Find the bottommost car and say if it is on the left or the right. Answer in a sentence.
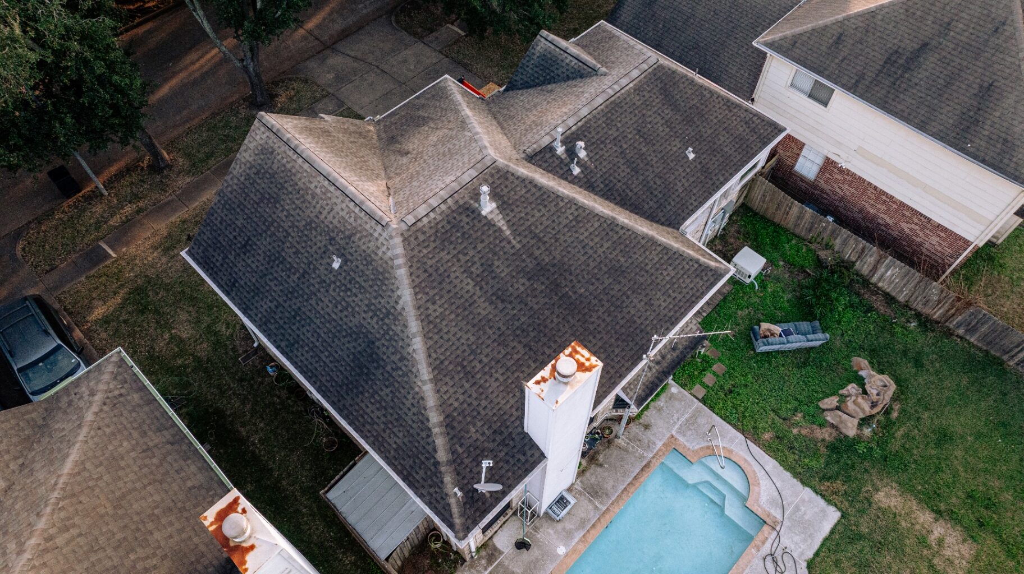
The bottommost car sits on the left side.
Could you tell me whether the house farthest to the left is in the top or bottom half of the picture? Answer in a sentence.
Seen from above, the house farthest to the left lies in the bottom half of the view.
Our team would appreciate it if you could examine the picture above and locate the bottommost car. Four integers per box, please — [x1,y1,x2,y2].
[0,296,93,409]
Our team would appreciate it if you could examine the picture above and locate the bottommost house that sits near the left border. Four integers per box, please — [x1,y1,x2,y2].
[0,349,323,574]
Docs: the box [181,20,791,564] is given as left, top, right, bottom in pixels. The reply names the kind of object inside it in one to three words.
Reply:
house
